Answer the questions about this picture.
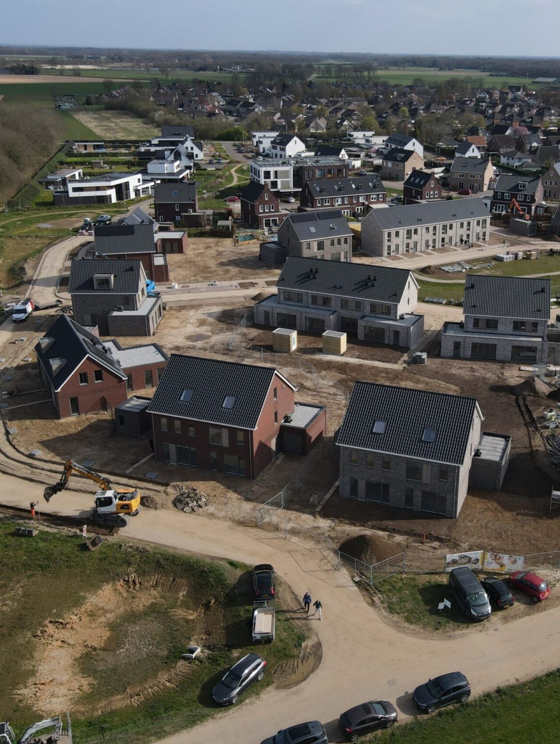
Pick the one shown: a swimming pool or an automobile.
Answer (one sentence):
The one in the frame is an automobile.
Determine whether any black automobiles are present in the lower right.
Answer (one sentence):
Yes, the scene does show a black automobile in the lower right.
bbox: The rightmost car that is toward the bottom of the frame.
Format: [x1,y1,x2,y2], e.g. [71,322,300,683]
[506,566,558,604]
